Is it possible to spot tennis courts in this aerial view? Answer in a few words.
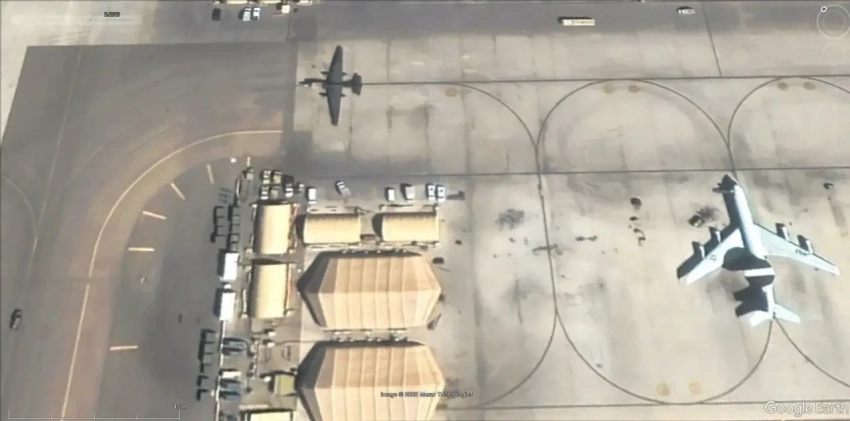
No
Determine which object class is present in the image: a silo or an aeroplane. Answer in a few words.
aeroplane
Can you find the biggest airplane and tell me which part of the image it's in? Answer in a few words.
right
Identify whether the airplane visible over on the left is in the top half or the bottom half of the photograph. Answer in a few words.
top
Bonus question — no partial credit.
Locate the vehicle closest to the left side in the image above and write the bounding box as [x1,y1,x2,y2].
[8,311,21,329]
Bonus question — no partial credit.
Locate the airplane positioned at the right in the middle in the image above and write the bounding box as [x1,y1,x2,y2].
[678,176,834,326]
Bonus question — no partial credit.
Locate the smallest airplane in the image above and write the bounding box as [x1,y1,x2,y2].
[301,47,362,125]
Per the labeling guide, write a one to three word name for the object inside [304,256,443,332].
hangar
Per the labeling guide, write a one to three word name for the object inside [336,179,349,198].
vehicle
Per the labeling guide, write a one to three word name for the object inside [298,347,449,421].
hangar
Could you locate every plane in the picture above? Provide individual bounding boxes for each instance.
[678,176,834,326]
[301,47,362,125]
